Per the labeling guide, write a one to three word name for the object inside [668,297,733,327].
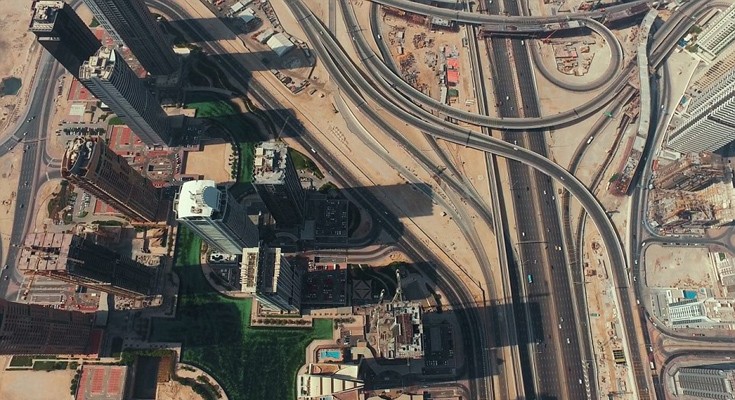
building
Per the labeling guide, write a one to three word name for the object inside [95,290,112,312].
building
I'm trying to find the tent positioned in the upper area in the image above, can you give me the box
[268,33,295,59]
